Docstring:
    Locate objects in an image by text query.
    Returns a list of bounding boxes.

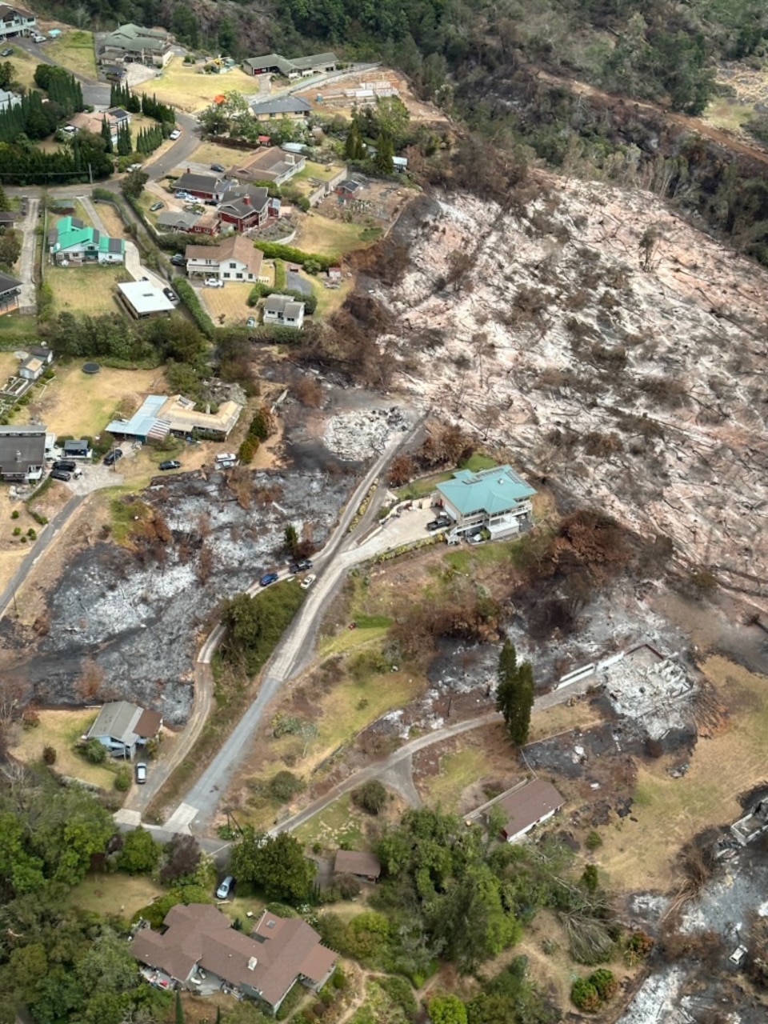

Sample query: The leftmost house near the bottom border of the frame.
[121,889,338,1012]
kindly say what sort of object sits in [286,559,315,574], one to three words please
vehicle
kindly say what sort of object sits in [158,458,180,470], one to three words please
vehicle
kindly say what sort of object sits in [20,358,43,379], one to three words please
building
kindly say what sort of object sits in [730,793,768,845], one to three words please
house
